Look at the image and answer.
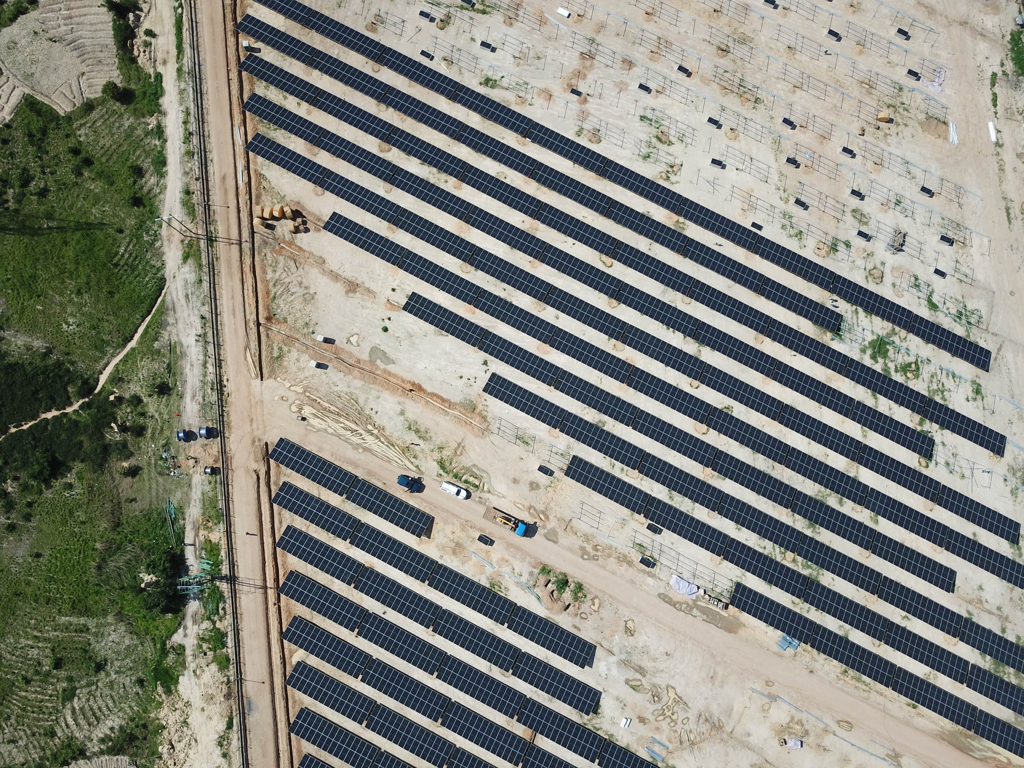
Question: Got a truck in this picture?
Yes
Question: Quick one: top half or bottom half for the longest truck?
bottom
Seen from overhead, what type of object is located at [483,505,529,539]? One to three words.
truck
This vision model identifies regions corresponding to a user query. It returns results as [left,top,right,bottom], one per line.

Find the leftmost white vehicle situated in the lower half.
[439,481,467,500]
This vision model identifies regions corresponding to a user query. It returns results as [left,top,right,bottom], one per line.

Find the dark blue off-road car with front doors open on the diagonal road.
[396,475,422,494]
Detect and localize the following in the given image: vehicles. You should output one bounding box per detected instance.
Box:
[439,481,467,500]
[396,475,422,494]
[483,505,529,539]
